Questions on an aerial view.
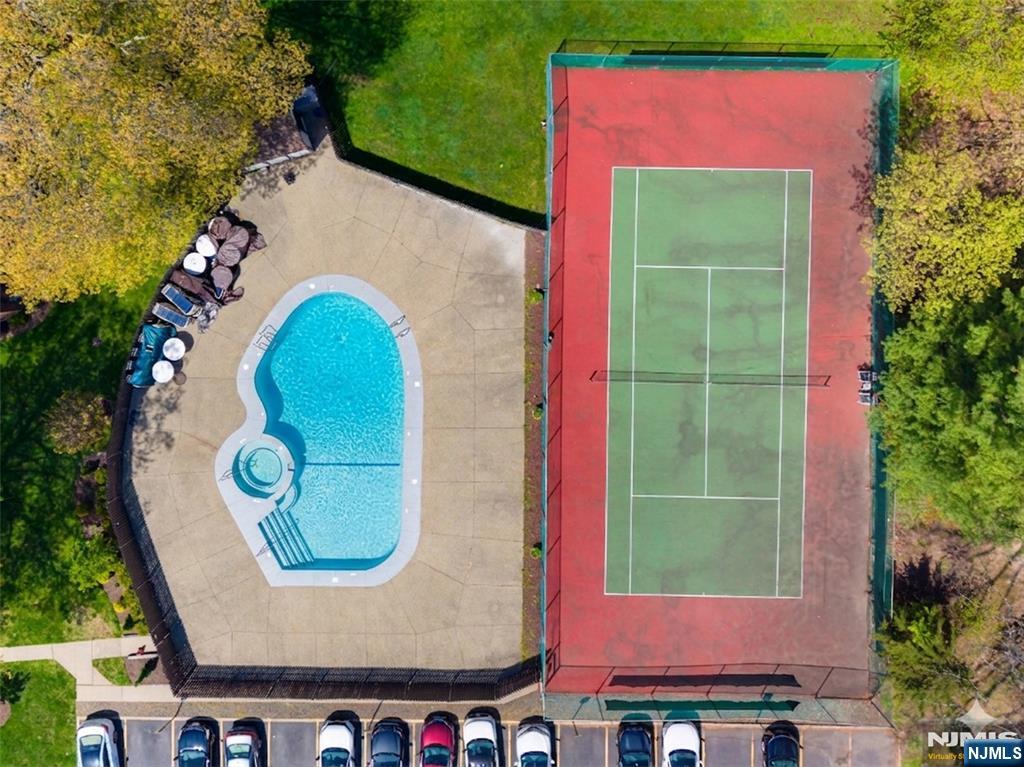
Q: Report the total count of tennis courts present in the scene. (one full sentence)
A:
I count 1 tennis court.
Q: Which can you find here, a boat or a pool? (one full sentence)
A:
It is a pool that can be seen here.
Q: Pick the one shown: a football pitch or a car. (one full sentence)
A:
The image shows a car.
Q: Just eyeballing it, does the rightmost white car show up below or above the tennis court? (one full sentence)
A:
The rightmost white car is located below the tennis court in this view.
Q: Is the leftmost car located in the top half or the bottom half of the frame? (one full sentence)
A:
It is in the bottom half that the leftmost car appears.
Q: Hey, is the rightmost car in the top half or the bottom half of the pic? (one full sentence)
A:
Seen from above, the rightmost car lies in the bottom half of the view.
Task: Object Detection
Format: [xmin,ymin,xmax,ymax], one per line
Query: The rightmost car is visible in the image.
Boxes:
[763,728,802,767]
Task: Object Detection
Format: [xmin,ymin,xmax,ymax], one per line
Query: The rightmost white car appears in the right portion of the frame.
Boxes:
[663,718,708,767]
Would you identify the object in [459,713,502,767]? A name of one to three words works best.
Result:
car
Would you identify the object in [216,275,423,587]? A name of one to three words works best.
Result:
swimming pool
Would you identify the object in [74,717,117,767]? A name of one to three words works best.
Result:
car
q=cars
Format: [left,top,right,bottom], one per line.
[763,728,802,767]
[314,718,357,767]
[221,727,259,767]
[366,721,408,767]
[513,721,555,767]
[74,717,117,767]
[663,718,708,767]
[459,713,502,767]
[168,722,215,767]
[617,721,659,767]
[416,717,458,767]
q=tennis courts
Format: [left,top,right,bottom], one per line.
[547,68,876,697]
